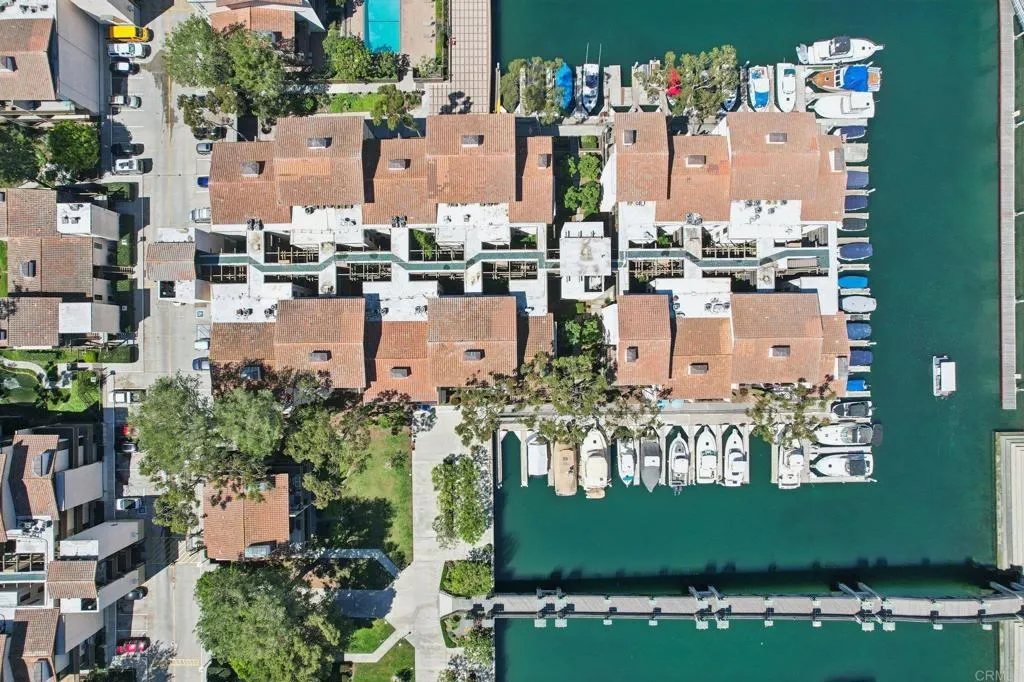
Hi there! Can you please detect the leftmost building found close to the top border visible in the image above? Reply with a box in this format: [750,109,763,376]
[0,0,98,124]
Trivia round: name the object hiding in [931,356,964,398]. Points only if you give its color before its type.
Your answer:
white boat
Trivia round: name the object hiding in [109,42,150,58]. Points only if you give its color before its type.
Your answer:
white vehicle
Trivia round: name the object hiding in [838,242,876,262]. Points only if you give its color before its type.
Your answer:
blue boat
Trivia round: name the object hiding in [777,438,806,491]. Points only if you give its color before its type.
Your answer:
white boat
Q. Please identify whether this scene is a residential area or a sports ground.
residential area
